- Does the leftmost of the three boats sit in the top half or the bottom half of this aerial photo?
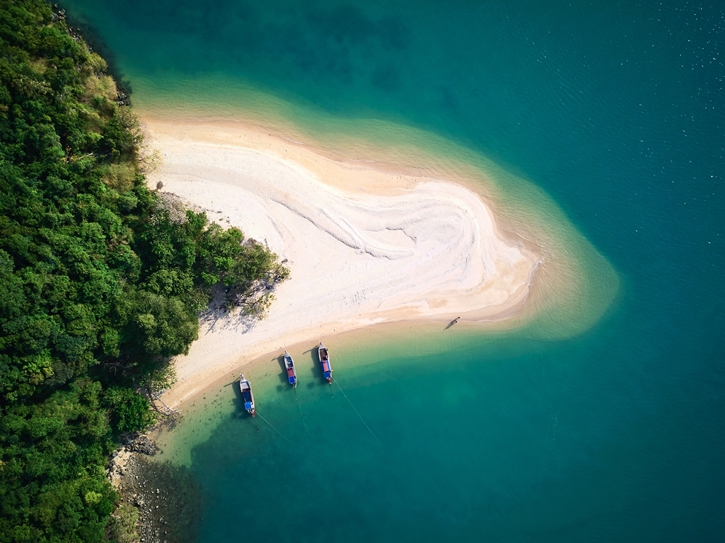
bottom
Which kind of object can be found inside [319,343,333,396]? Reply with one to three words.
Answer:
boat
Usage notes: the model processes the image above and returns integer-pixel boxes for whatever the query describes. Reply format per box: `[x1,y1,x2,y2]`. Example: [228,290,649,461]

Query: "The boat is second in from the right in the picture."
[285,352,297,400]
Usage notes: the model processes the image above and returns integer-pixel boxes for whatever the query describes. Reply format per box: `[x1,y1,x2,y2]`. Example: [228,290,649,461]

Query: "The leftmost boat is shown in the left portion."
[239,375,260,428]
